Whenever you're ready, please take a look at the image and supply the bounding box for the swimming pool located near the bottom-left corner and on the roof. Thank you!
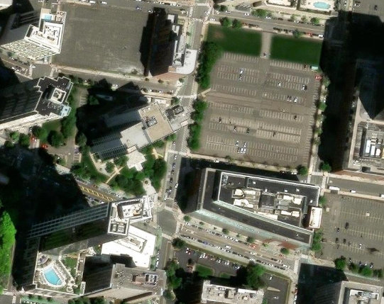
[44,267,62,285]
